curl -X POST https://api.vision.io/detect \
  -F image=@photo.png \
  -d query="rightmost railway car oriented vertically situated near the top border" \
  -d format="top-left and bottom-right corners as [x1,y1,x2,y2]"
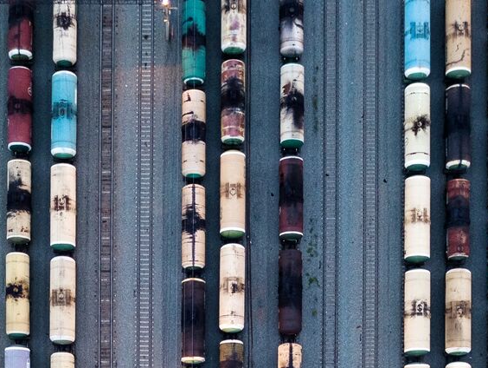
[443,0,471,84]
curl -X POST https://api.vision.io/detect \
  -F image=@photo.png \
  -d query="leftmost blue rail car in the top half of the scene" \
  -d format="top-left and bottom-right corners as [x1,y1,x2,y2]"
[50,72,78,164]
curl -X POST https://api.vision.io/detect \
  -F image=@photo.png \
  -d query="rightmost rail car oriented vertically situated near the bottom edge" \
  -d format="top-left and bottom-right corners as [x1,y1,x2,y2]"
[443,267,471,360]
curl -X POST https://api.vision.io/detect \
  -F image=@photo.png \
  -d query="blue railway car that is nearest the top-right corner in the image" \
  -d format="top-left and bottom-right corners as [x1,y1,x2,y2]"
[404,0,431,84]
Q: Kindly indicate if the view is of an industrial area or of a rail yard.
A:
rail yard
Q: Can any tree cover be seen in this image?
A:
No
